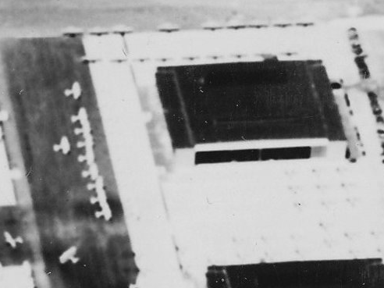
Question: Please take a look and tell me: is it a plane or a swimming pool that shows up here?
plane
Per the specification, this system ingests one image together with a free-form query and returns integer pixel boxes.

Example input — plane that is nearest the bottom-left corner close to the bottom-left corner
[4,233,23,249]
